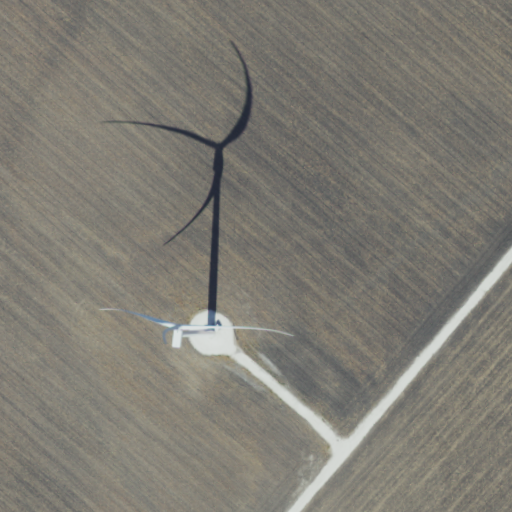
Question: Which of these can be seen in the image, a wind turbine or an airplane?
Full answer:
The one in the frame is a wind turbine.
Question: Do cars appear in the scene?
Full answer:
No, no car is visible in the scene.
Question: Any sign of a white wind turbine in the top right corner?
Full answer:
No, the scene shows no white wind turbine in the top right corner.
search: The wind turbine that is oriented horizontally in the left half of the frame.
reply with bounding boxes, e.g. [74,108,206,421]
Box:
[83,308,292,348]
